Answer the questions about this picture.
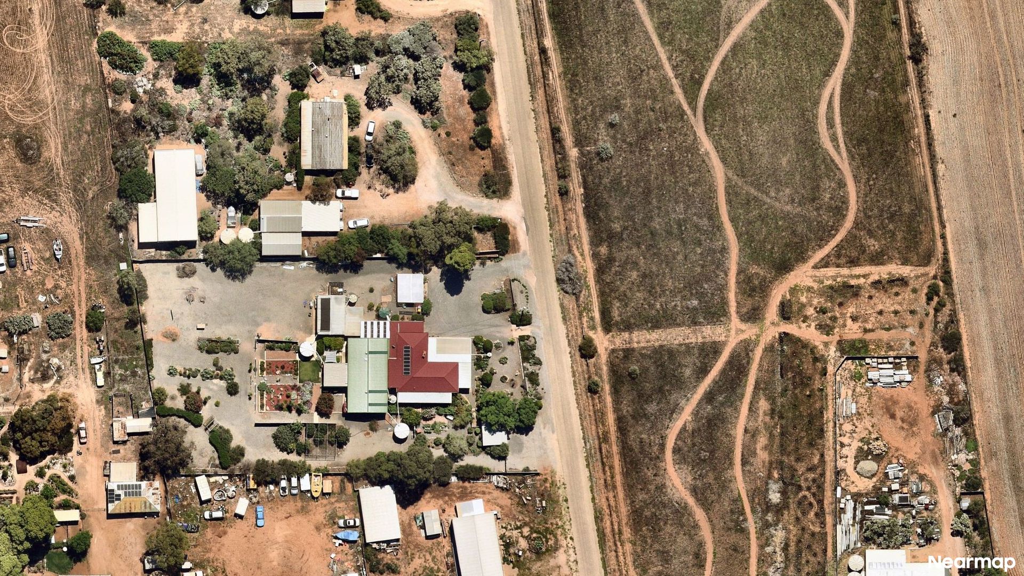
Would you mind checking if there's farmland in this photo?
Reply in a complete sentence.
Yes, farmland can be seen from above here.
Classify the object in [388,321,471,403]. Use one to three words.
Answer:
house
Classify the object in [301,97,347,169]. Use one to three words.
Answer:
house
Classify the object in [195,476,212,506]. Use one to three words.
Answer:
camper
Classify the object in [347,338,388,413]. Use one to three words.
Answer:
shed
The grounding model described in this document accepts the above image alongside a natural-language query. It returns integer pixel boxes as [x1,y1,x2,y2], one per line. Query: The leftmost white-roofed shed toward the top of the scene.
[138,149,197,243]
